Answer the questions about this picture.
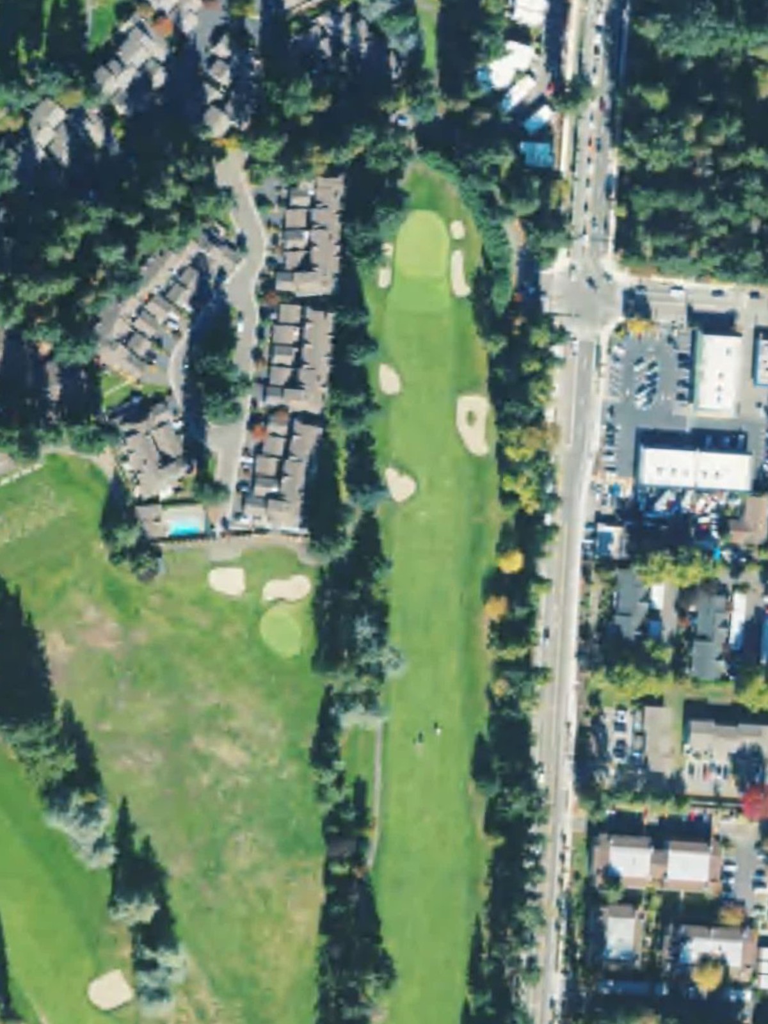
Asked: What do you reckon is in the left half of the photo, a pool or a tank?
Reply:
pool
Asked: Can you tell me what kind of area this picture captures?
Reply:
golf course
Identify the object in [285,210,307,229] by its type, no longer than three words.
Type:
building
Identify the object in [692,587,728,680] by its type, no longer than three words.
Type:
house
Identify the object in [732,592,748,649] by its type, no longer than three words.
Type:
trailer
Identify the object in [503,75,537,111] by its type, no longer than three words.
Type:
building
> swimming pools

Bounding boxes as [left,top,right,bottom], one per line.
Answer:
[160,507,207,539]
